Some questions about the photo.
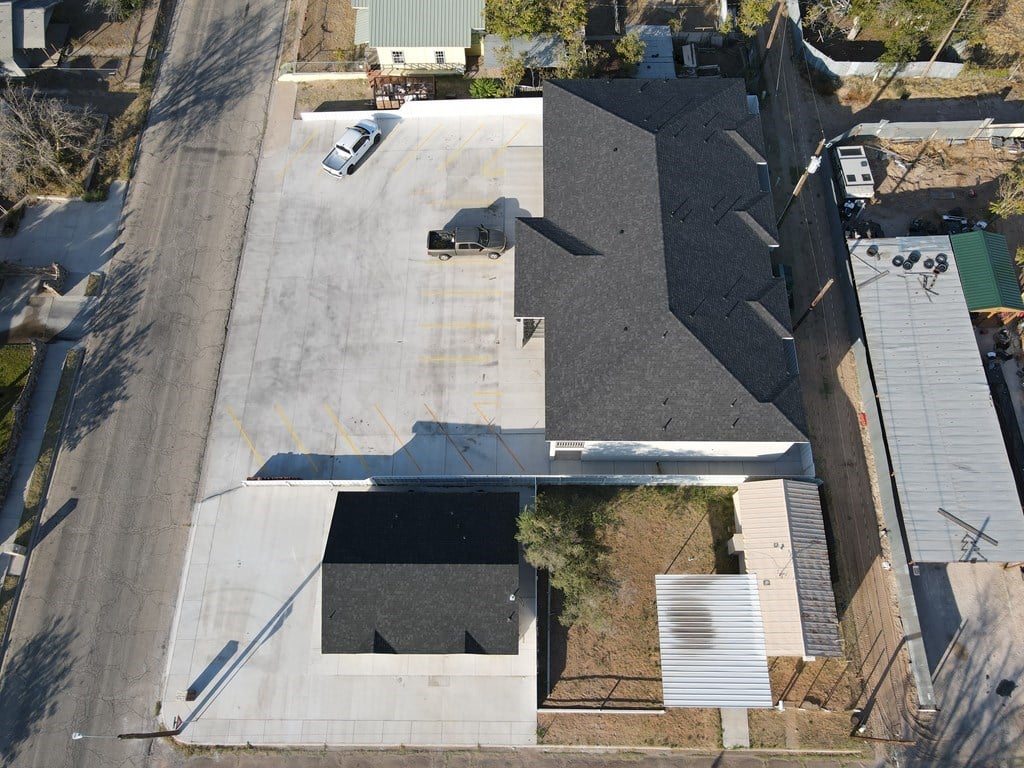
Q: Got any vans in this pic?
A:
Yes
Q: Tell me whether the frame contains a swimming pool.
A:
No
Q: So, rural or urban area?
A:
urban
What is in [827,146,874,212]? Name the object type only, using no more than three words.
van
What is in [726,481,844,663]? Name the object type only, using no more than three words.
house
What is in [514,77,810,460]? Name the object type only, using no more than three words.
building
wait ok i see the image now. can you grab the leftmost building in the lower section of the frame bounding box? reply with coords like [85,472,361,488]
[322,492,520,655]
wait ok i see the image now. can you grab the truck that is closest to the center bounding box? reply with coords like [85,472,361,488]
[425,225,507,261]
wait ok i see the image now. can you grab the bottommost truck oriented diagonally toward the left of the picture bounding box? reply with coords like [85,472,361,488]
[318,120,383,185]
